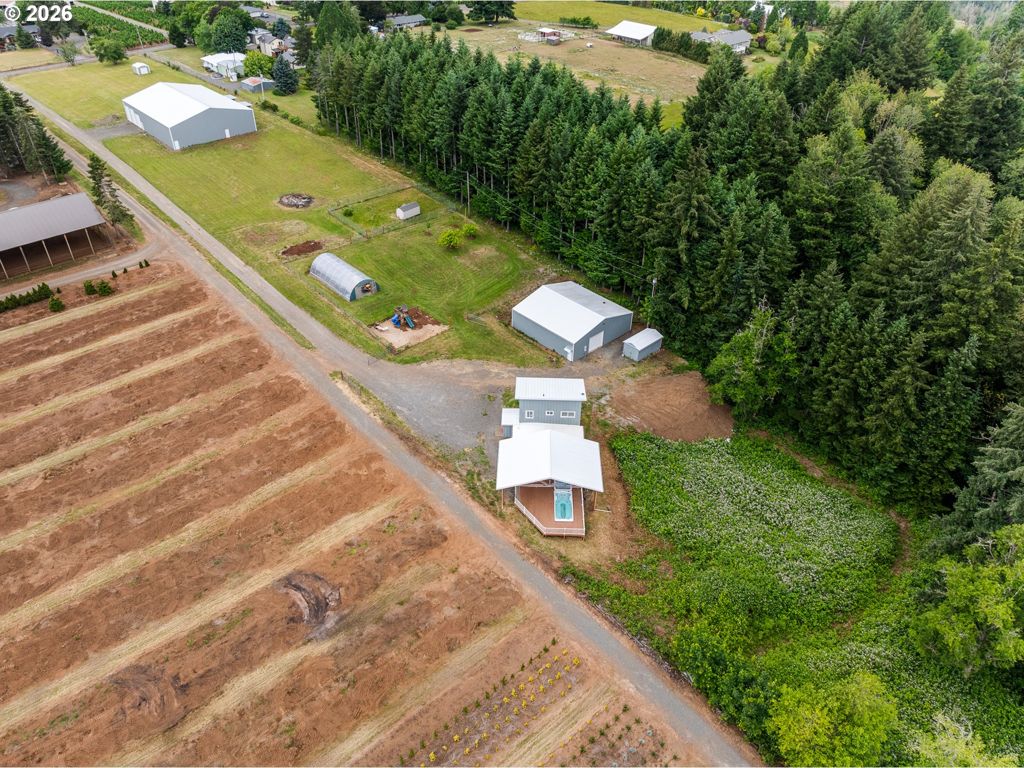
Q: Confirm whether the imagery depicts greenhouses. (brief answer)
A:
Yes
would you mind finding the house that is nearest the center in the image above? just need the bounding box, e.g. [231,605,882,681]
[500,376,586,438]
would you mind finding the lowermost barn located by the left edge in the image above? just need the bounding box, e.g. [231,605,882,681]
[0,196,111,279]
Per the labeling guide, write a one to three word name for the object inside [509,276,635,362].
building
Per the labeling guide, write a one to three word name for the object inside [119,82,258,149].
barn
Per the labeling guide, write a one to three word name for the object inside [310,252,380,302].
greenhouse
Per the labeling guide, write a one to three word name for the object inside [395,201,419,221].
shed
